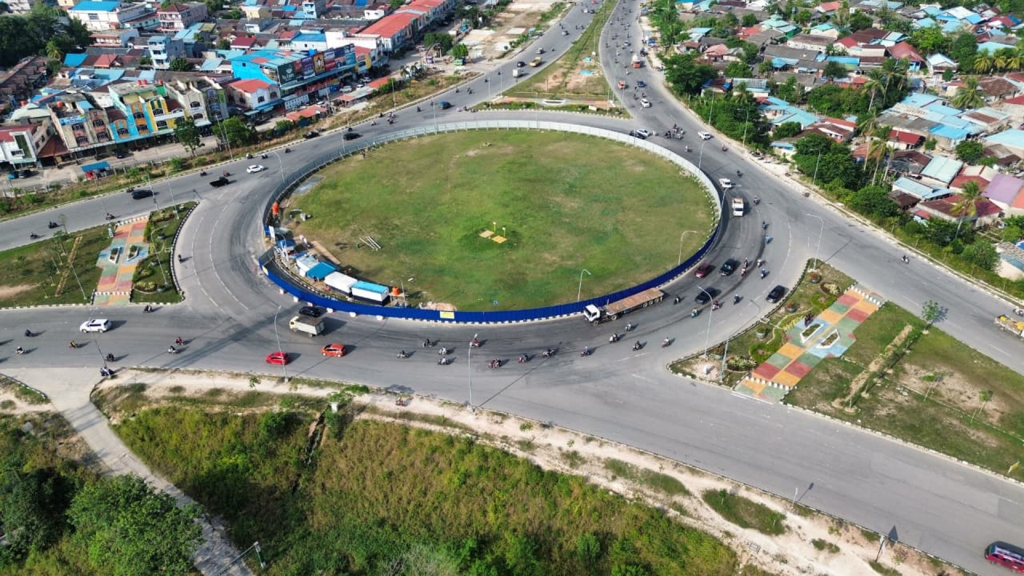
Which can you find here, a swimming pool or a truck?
truck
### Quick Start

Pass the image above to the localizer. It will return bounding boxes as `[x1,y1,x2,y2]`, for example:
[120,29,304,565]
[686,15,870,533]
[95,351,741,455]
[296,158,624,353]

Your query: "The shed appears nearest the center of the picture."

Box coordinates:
[351,279,390,306]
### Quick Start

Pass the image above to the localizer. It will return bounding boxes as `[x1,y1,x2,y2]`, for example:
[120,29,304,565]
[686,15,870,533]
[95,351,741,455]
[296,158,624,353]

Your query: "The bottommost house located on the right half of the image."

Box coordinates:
[994,241,1024,285]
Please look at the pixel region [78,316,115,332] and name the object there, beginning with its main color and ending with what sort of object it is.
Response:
white car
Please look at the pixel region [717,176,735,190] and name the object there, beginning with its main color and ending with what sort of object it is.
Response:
white vehicle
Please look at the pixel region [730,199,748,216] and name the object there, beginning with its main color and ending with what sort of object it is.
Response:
white vehicle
